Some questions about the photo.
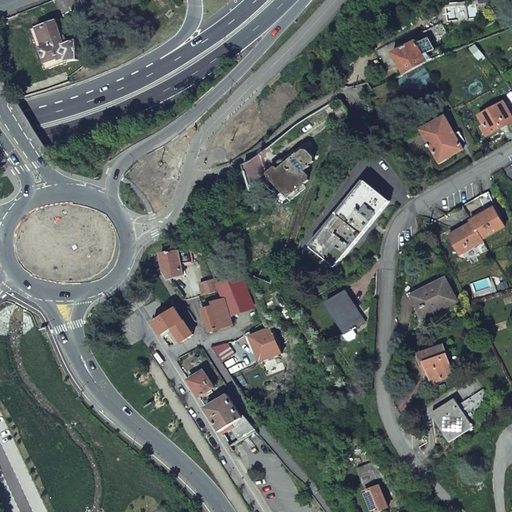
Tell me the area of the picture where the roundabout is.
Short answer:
left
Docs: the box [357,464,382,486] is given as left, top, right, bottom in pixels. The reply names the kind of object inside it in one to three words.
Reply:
building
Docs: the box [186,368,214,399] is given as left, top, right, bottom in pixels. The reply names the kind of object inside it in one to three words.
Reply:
house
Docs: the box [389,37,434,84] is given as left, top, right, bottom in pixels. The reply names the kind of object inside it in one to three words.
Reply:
house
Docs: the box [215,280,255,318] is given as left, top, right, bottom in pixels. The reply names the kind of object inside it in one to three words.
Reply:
barn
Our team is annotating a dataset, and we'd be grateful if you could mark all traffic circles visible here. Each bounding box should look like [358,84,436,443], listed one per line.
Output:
[0,171,136,302]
